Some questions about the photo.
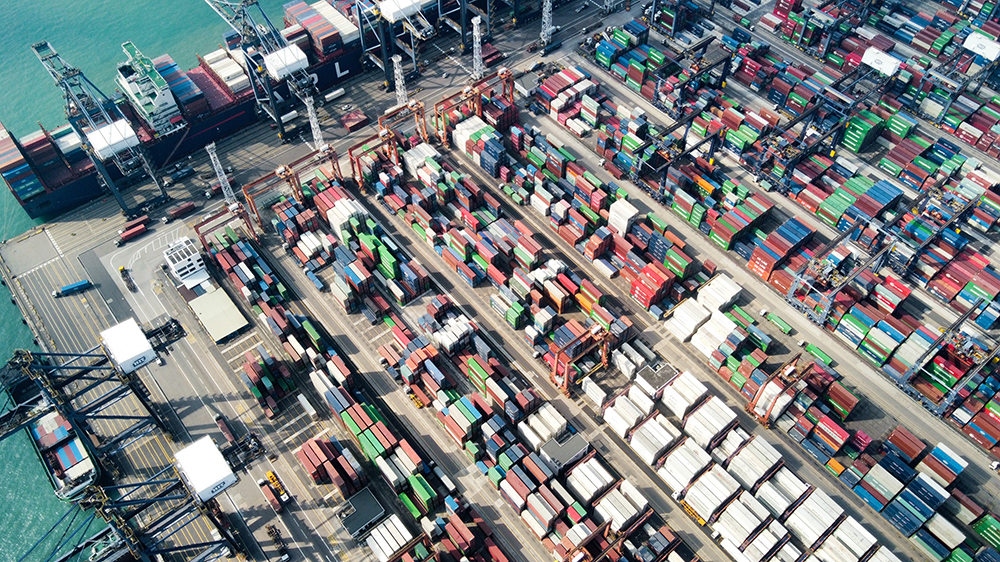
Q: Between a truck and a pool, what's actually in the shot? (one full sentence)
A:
Looking from above, you can make out a truck.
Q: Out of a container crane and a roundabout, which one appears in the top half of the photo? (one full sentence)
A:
What appears in the top half of the photo is a container crane.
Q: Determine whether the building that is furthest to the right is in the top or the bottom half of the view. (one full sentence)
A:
The building that is furthest to the right sits in the bottom half of the picture.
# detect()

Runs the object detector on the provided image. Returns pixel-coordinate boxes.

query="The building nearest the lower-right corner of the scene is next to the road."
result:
[636,364,680,396]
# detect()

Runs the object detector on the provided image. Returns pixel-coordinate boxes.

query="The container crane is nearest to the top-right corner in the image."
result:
[941,1,1000,73]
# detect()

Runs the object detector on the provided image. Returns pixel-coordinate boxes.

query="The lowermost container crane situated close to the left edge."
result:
[4,429,267,562]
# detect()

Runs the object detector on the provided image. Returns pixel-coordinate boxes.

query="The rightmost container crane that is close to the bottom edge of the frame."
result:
[561,510,632,562]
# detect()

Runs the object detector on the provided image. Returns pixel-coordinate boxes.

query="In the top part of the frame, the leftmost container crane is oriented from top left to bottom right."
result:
[28,42,178,222]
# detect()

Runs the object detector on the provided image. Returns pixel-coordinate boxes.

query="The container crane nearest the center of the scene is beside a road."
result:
[550,321,612,393]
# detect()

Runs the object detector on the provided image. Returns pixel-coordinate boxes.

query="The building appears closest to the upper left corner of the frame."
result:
[161,236,206,282]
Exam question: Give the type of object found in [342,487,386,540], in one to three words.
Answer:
building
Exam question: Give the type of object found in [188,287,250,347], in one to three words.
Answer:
building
